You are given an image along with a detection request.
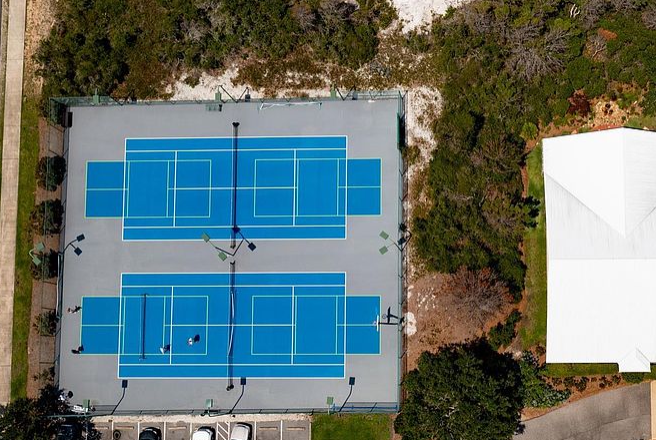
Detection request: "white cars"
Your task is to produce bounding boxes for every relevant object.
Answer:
[231,424,251,440]
[193,427,214,440]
